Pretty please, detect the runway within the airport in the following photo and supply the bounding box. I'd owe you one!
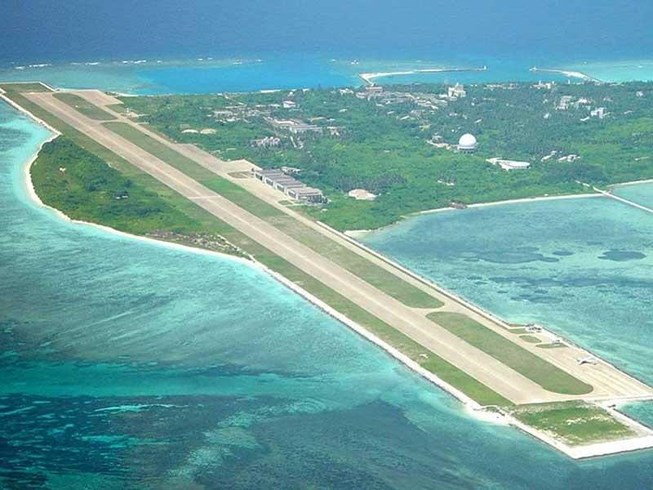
[20,91,562,405]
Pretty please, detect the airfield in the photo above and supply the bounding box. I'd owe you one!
[20,89,653,444]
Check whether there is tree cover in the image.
Yes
